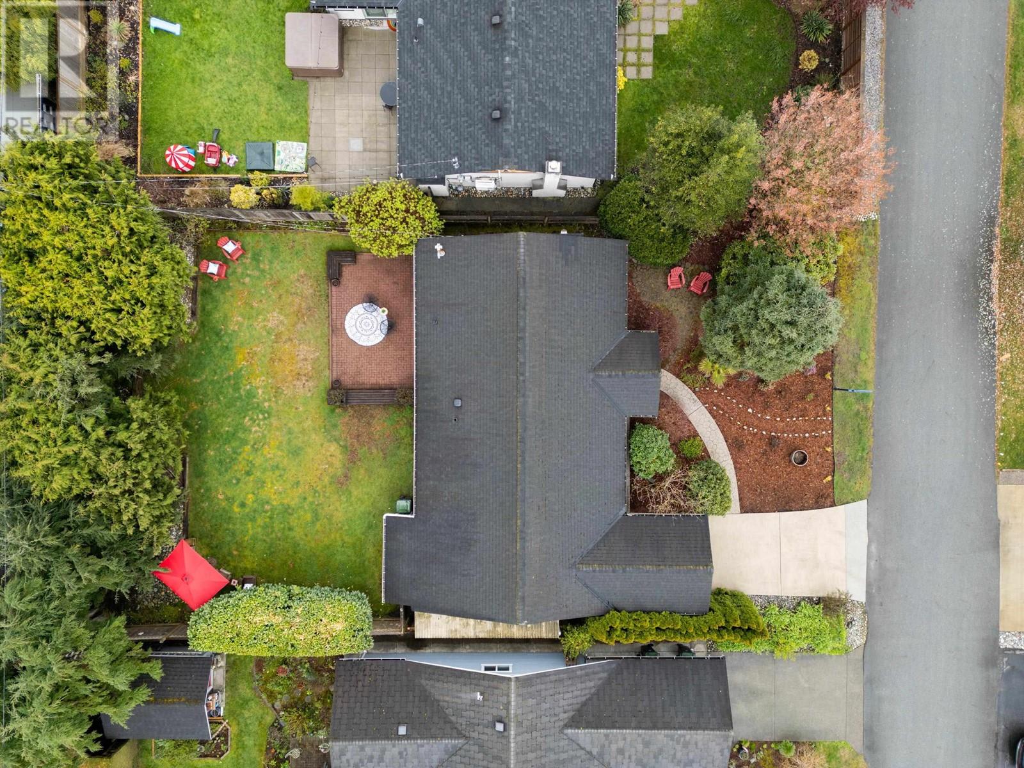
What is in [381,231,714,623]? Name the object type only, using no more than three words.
house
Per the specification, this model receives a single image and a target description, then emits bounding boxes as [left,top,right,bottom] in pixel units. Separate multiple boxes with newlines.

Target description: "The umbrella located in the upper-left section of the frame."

[165,143,197,173]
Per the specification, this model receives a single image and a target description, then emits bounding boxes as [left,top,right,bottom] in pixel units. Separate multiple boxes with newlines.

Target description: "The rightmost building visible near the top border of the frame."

[310,0,617,196]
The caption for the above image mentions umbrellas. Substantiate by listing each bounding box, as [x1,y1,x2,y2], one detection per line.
[165,143,197,173]
[154,539,230,609]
